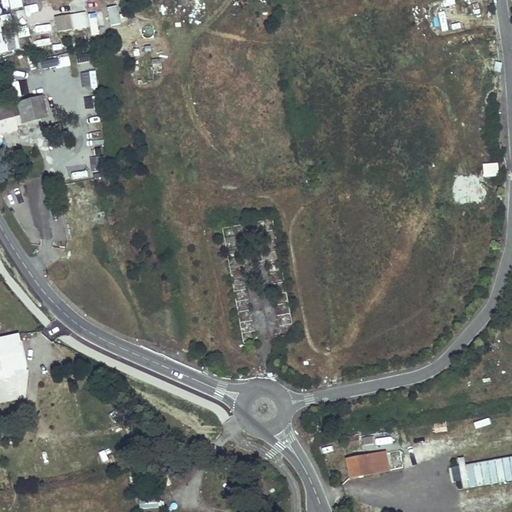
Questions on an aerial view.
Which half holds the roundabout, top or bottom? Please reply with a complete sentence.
You can find the roundabout in the bottom half.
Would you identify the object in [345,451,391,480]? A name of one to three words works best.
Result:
house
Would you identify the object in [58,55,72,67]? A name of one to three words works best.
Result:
vehicle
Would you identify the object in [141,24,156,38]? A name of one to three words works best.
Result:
swimming pool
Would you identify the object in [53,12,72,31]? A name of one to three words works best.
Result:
shed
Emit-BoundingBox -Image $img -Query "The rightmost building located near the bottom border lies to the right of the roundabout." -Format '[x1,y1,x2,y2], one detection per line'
[466,454,512,489]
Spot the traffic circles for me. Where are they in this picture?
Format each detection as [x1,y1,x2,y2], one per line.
[196,374,318,466]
